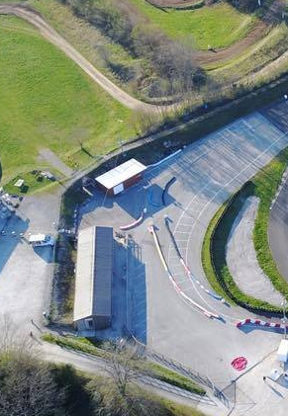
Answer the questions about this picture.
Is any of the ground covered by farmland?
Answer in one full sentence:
Yes, farmland shows up in the scene.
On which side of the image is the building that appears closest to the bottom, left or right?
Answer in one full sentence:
The building that appears closest to the bottom appears in the left half of the scene.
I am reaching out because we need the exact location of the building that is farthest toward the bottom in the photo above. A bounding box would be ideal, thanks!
[74,218,114,338]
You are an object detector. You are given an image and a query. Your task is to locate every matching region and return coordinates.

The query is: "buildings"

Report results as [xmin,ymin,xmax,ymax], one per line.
[74,218,114,338]
[95,160,148,201]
